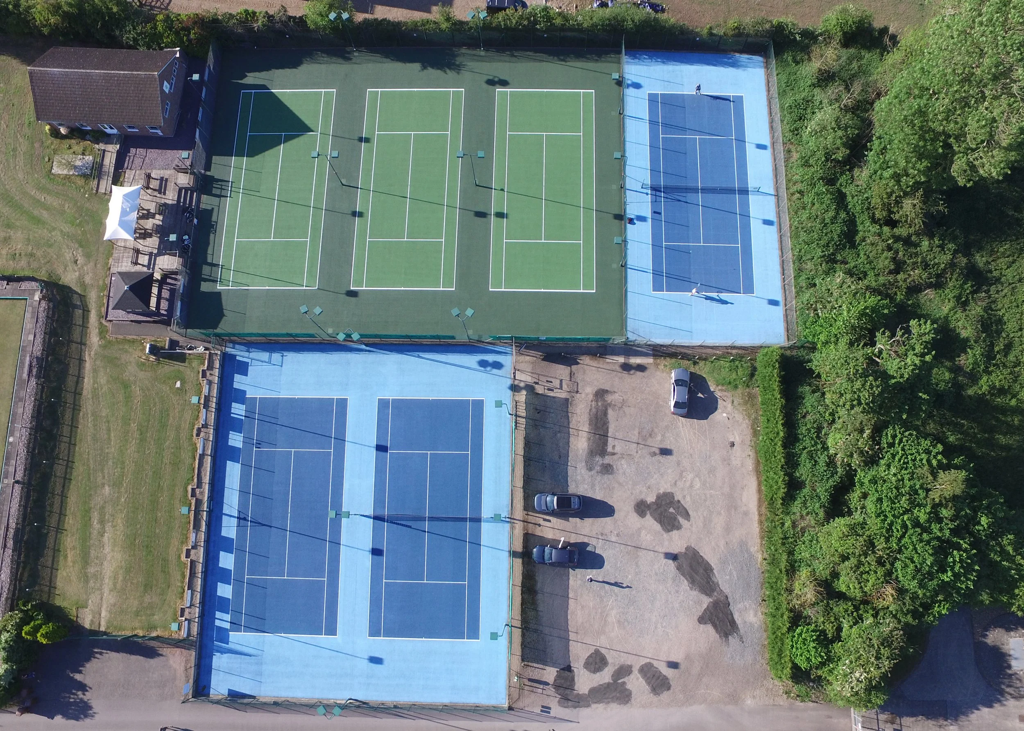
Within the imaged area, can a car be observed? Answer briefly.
Yes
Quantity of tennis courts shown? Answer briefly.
6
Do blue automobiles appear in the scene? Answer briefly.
Yes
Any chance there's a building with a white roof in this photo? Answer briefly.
No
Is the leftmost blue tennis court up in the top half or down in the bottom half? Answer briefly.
bottom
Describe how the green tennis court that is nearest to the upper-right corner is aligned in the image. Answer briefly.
vertically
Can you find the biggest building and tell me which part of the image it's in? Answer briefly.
top left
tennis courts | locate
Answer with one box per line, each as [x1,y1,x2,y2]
[229,396,349,637]
[648,92,755,294]
[351,89,464,289]
[218,90,336,288]
[490,89,595,291]
[368,398,485,641]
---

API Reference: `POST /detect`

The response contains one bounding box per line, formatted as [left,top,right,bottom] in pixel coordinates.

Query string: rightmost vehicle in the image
[669,370,699,416]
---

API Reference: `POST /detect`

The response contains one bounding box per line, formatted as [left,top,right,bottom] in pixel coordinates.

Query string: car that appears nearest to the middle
[533,491,582,514]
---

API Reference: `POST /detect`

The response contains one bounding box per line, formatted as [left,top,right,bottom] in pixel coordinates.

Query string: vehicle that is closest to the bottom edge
[532,537,579,566]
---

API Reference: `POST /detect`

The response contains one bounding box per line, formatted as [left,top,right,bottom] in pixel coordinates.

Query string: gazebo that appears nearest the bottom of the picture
[111,271,161,314]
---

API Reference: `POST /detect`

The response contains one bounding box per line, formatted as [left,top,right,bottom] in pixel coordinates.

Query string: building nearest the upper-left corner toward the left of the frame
[28,45,185,136]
